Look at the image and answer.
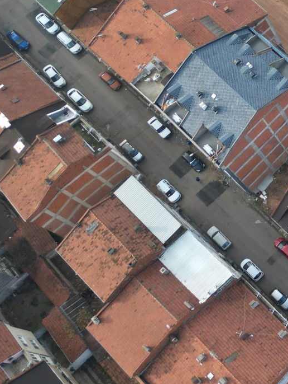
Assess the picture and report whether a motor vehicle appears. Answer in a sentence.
Yes, I can see a motor vehicle in this picture.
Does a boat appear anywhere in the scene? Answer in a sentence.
No, I can't see a single boat in this photo.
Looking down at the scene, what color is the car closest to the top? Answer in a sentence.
In this view, the car closest to the top is white.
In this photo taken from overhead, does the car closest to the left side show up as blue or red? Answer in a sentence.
The car closest to the left side looks blue in the image.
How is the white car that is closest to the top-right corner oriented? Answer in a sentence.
The white car that is closest to the top-right corner runs at an angle in the image.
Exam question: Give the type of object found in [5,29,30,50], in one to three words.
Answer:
car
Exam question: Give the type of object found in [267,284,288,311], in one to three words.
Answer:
car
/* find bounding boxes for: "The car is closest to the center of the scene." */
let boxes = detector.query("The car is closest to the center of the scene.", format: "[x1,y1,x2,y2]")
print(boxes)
[153,177,183,204]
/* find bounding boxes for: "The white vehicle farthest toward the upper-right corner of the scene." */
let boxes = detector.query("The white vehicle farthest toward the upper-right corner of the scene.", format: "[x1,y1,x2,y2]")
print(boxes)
[146,114,174,140]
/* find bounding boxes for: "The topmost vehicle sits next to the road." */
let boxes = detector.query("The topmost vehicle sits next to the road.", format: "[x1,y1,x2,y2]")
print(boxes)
[35,13,61,35]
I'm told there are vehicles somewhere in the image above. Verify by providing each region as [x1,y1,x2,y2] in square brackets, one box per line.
[238,255,267,284]
[153,177,183,204]
[35,13,61,35]
[177,146,208,175]
[206,226,234,251]
[66,88,93,112]
[267,284,288,311]
[146,114,174,140]
[42,64,67,88]
[116,137,146,165]
[5,29,30,50]
[97,69,123,91]
[57,31,83,54]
